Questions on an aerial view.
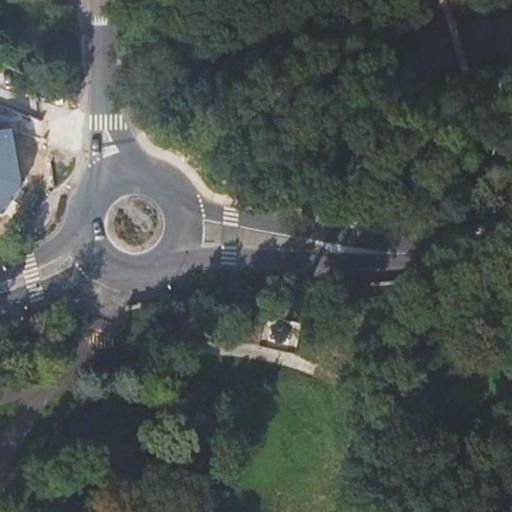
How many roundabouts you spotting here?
1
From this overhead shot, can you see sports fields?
No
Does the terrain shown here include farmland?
No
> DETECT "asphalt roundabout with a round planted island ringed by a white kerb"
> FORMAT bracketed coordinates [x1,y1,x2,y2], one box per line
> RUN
[60,134,223,298]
